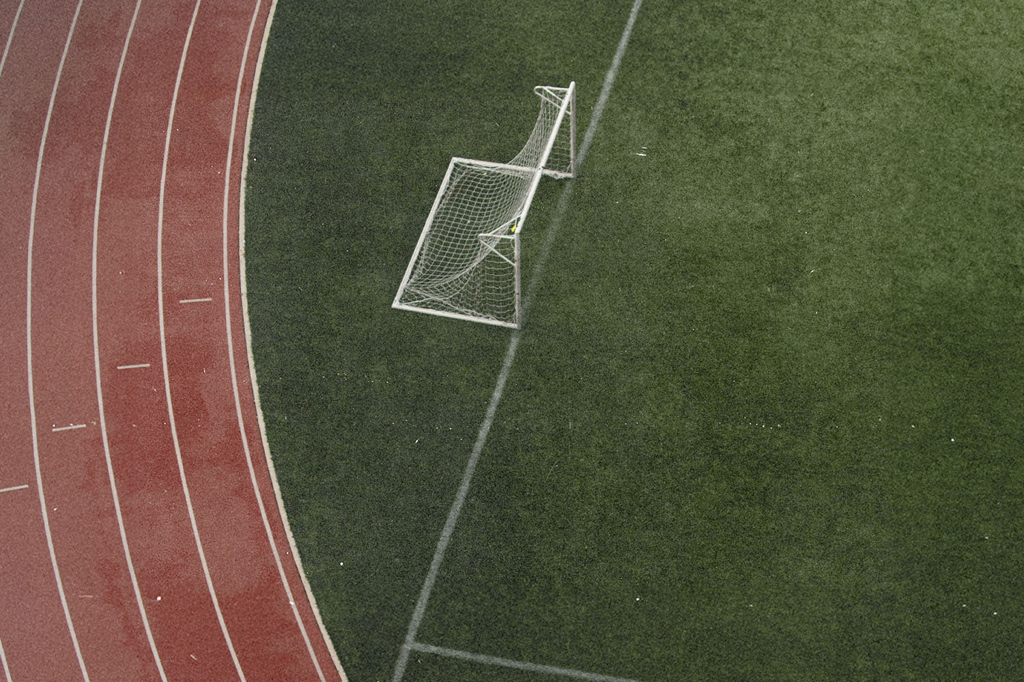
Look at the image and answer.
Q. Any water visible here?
No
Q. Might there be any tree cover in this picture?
No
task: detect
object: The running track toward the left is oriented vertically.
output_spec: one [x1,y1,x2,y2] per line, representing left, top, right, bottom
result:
[0,0,342,682]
